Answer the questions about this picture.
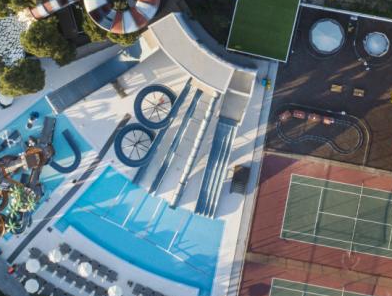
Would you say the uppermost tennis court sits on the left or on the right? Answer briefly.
right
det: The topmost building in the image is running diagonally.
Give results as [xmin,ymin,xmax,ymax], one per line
[148,12,236,94]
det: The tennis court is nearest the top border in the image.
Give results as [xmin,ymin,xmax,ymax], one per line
[247,154,392,276]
